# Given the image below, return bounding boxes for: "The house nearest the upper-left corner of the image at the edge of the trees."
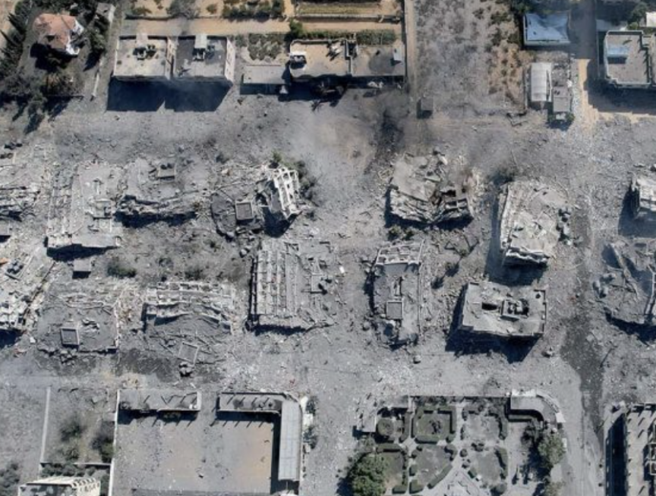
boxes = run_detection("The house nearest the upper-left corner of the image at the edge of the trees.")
[34,13,89,59]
